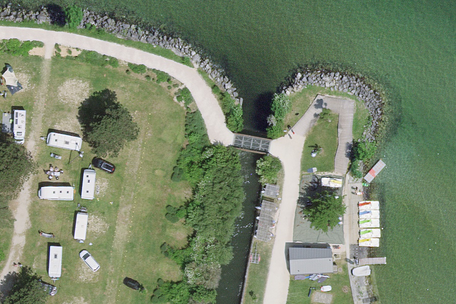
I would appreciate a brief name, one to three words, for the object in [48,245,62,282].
camper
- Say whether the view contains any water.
Yes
